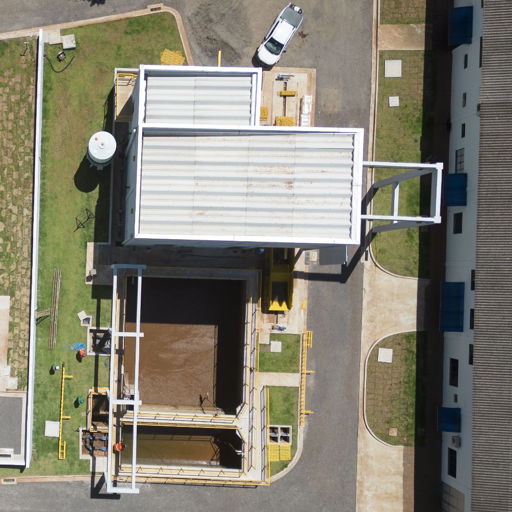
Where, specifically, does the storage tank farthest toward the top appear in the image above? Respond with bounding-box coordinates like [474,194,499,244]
[85,134,116,175]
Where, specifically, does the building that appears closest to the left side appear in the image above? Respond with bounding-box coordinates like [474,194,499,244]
[114,64,364,254]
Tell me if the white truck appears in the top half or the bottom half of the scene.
top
